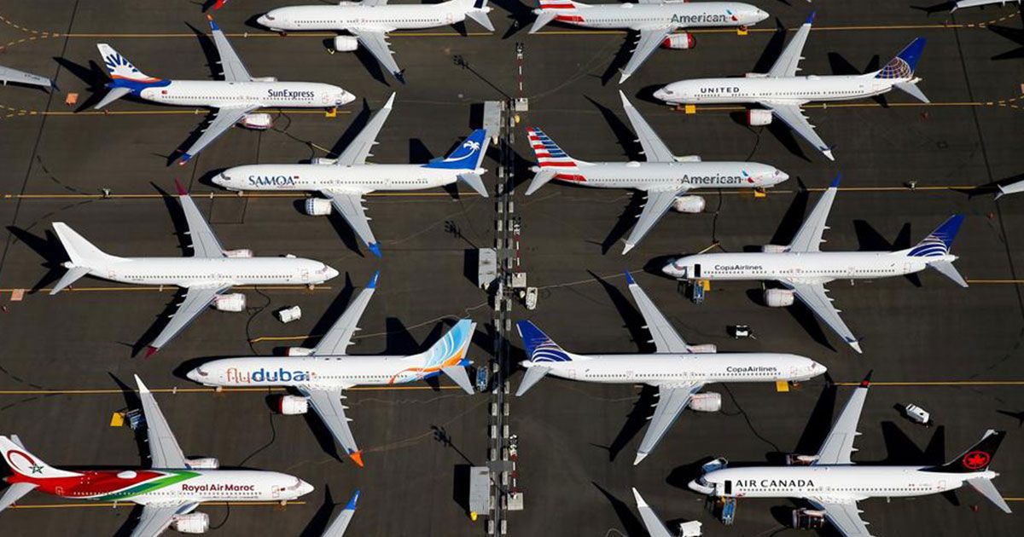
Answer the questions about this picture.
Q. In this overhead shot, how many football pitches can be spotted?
0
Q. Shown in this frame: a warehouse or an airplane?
airplane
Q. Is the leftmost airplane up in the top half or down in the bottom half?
top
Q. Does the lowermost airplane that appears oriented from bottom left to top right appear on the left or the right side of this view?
left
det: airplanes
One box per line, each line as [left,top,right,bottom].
[51,178,338,359]
[653,9,931,160]
[187,269,477,467]
[632,487,670,537]
[530,0,770,82]
[212,92,492,257]
[0,375,313,537]
[525,90,790,255]
[0,50,57,91]
[324,490,361,537]
[515,267,827,466]
[257,0,494,82]
[688,369,1010,537]
[662,172,969,353]
[95,15,354,165]
[950,0,1002,13]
